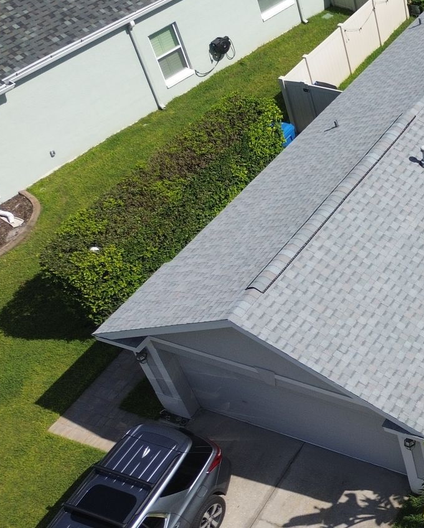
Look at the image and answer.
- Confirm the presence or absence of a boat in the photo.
No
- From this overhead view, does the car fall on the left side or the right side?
left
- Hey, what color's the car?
black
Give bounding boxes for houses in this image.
[0,0,329,203]
[96,9,424,498]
